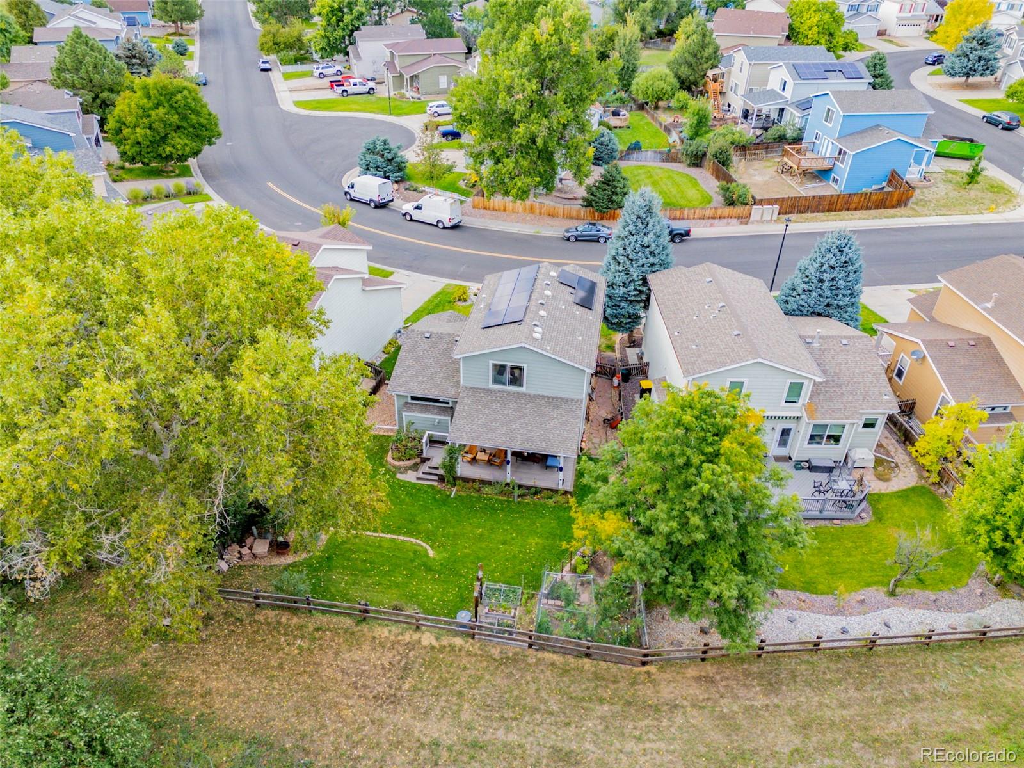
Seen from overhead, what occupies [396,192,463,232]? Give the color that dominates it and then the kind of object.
white van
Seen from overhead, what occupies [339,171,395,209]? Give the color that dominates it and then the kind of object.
white van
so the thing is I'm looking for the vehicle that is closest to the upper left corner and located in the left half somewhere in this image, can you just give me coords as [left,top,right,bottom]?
[190,70,206,84]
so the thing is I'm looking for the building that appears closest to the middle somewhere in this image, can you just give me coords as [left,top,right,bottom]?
[386,260,605,498]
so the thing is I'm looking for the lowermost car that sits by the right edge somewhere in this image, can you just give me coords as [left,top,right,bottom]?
[985,111,1019,129]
